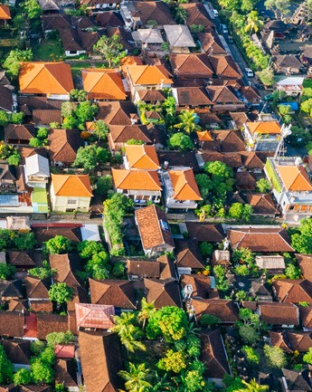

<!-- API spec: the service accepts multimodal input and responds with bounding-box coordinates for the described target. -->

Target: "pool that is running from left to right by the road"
[272,99,310,111]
